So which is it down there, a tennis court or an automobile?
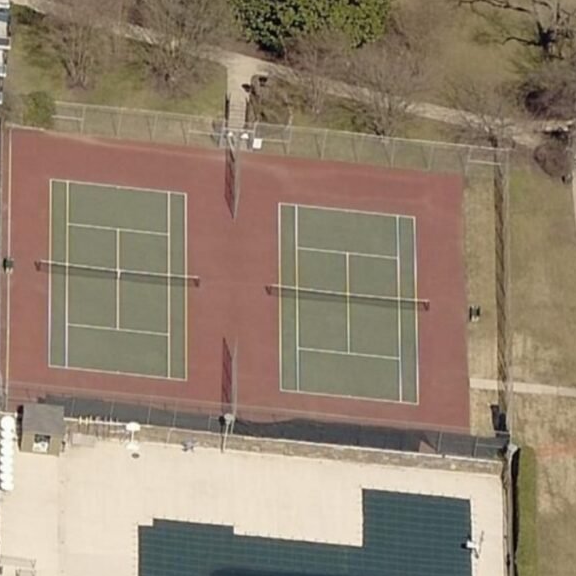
tennis court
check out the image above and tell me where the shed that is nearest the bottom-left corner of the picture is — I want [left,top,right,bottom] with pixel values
[20,405,63,455]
